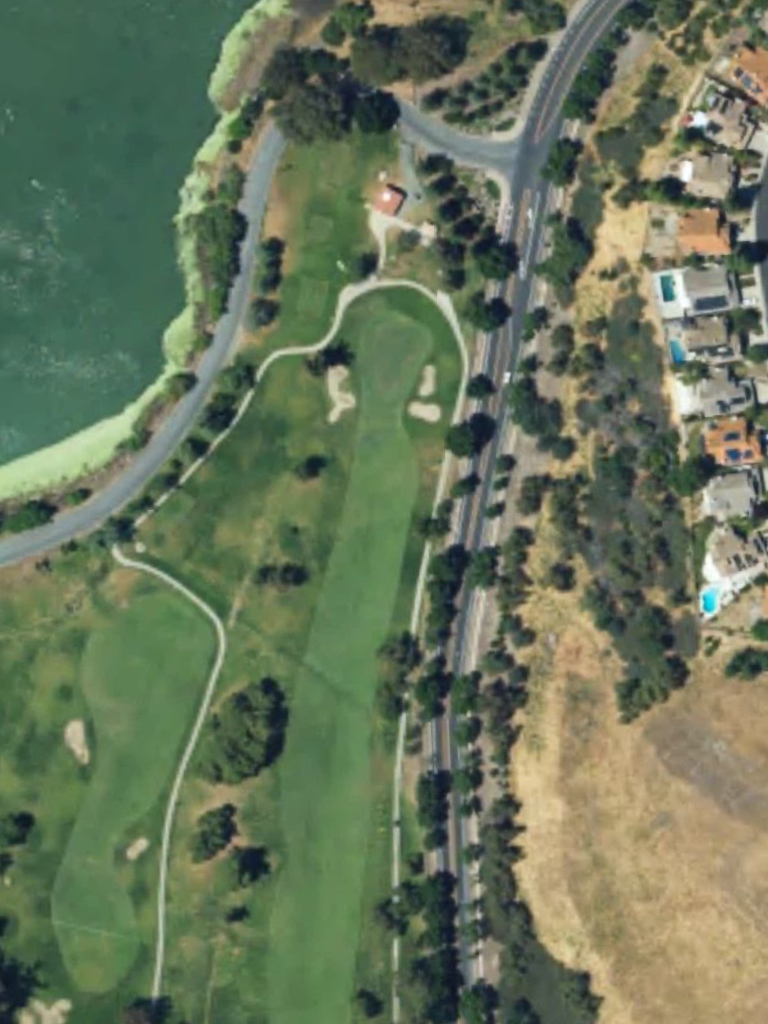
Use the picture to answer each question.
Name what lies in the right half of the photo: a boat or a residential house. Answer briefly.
residential house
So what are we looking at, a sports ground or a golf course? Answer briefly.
golf course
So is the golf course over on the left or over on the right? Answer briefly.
left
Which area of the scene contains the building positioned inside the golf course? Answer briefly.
top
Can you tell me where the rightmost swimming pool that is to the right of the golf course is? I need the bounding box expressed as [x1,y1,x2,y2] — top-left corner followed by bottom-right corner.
[701,586,718,613]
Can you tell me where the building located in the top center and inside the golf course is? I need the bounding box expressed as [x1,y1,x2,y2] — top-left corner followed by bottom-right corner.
[371,182,404,216]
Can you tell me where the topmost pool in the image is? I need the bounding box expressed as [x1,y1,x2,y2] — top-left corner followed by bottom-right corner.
[660,273,676,302]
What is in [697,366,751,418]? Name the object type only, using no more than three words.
house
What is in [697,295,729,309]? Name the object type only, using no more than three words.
solar panel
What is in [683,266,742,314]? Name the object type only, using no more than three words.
house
